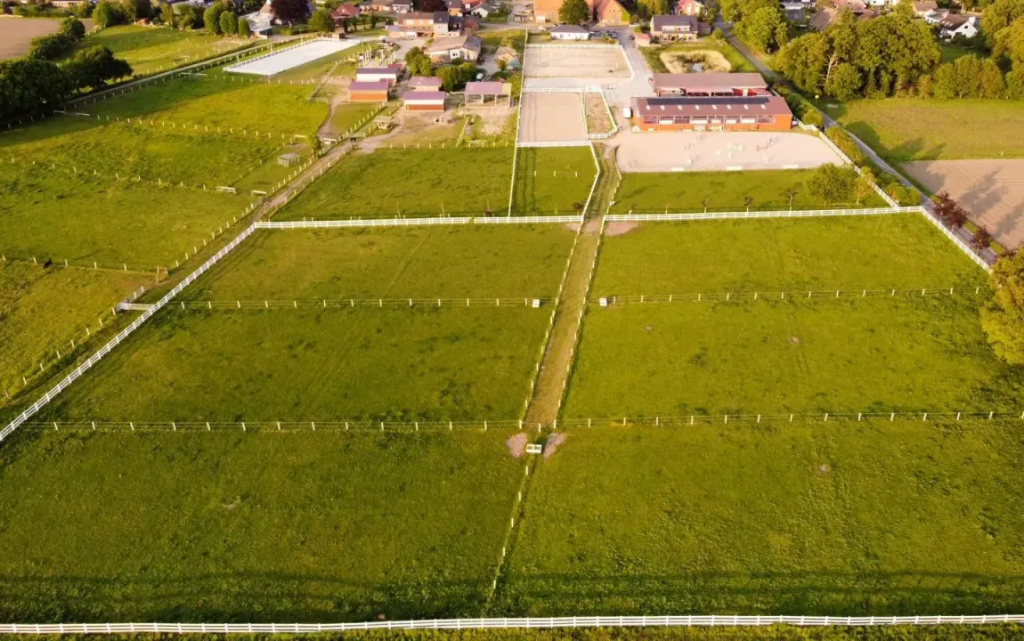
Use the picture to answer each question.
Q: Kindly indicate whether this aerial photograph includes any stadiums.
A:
Yes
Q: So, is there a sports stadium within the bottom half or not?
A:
No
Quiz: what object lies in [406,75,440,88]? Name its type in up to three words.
shed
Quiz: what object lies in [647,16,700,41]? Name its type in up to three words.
house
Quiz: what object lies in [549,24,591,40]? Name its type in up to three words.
house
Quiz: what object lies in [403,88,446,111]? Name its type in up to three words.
shed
